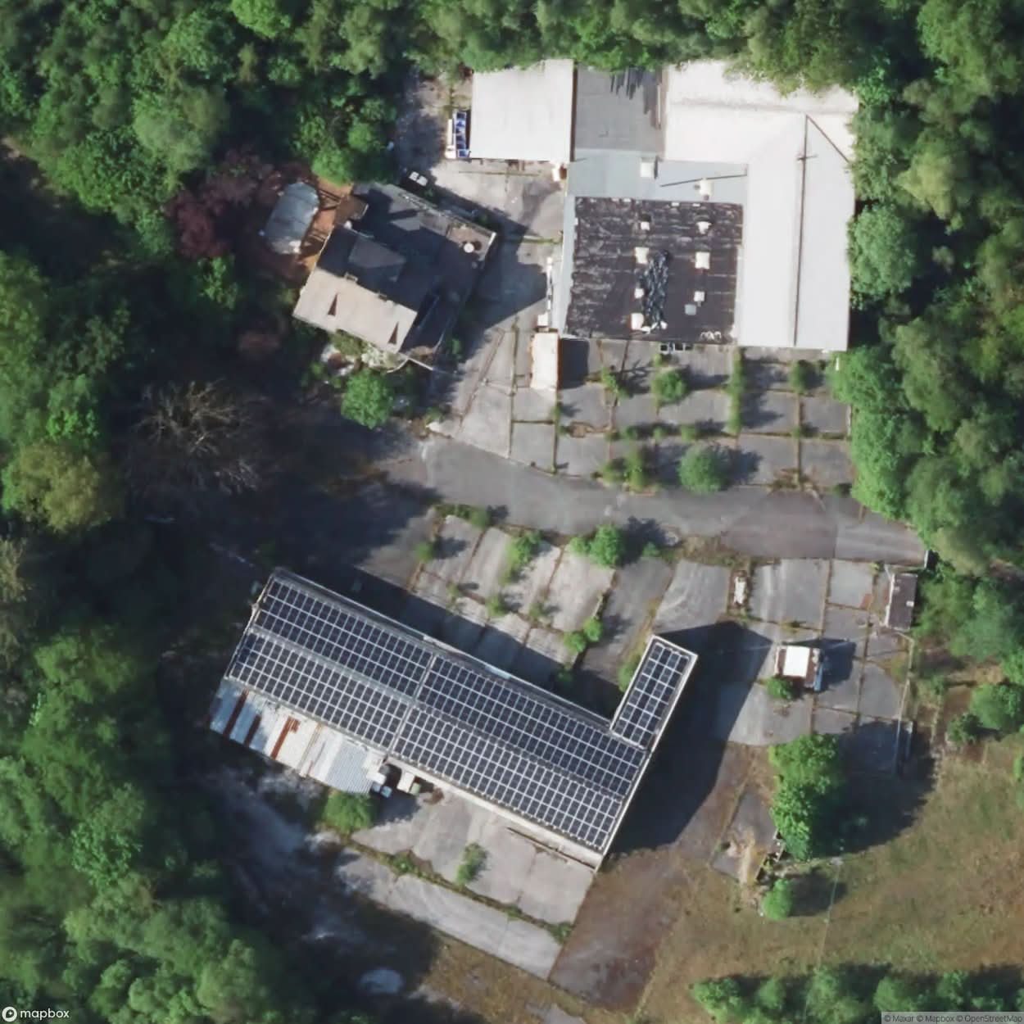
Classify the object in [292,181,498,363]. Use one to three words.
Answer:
house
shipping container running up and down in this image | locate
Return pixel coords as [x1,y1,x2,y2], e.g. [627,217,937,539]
[531,333,559,394]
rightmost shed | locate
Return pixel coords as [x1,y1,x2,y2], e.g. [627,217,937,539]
[883,573,918,631]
